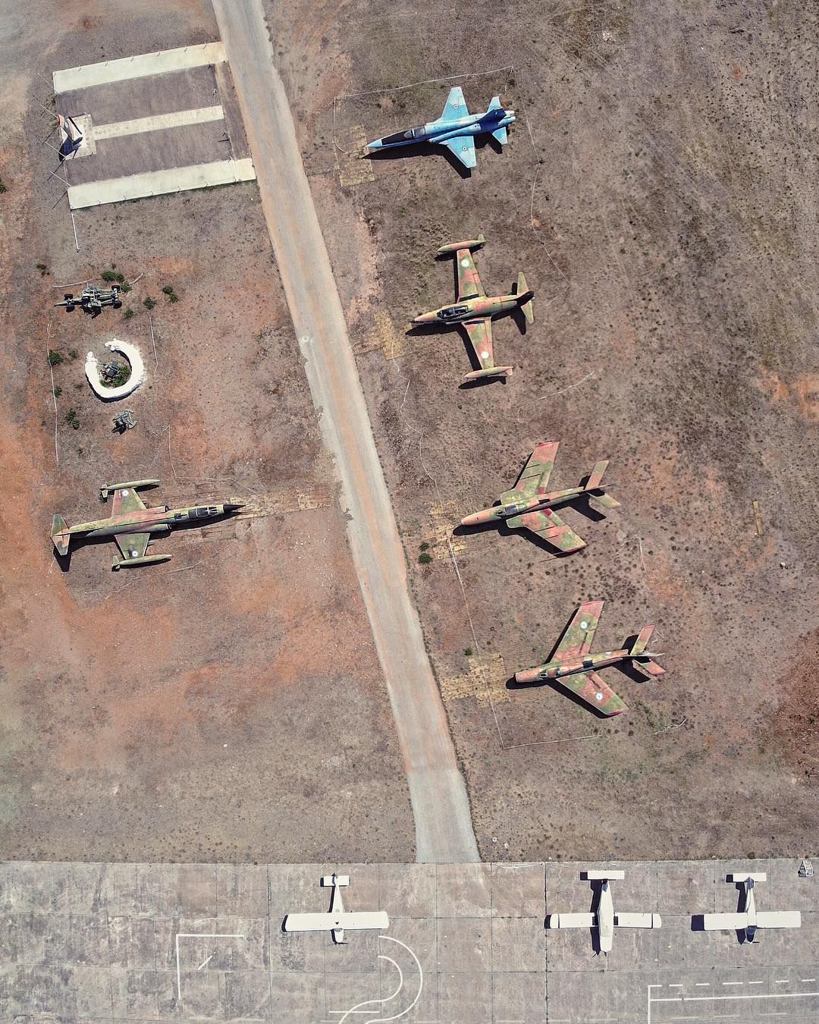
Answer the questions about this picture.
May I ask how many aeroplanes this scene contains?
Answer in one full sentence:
Looking from above, you can make out 8 aeroplanes.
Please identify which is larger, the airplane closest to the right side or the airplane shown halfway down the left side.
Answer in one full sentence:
It is the airplane shown halfway down the left side that is larger, not the airplane closest to the right side.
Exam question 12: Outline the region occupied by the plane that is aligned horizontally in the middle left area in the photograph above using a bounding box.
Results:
[51,479,245,570]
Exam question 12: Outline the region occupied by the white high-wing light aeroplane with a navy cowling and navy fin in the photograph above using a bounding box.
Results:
[706,873,804,943]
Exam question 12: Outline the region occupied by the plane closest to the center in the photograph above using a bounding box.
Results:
[461,438,620,558]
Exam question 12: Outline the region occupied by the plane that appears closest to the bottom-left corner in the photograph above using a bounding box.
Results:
[285,876,389,943]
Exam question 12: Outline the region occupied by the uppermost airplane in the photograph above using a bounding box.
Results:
[368,85,516,169]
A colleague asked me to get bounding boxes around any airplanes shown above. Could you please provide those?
[549,871,662,953]
[514,597,665,714]
[461,438,620,558]
[285,876,389,943]
[51,479,245,570]
[706,873,804,943]
[368,85,516,169]
[413,232,537,377]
